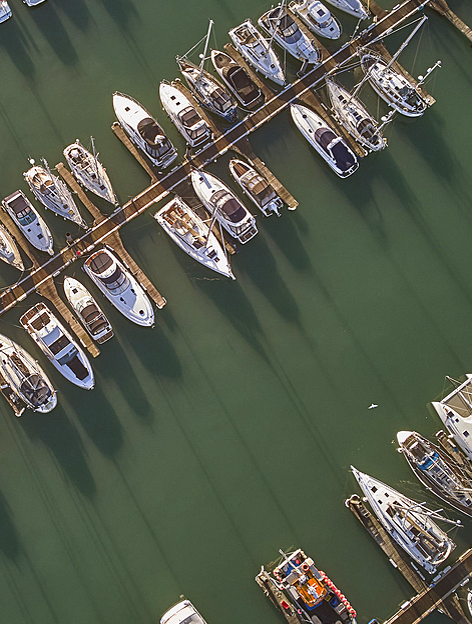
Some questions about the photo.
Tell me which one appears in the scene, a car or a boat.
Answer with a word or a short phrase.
boat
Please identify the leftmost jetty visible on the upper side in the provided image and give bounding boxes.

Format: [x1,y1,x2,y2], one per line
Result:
[0,207,46,273]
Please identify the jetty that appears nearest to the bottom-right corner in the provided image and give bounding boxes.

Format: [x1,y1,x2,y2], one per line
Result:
[433,595,466,624]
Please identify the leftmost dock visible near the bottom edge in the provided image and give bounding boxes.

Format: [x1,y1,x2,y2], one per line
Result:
[257,565,302,624]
